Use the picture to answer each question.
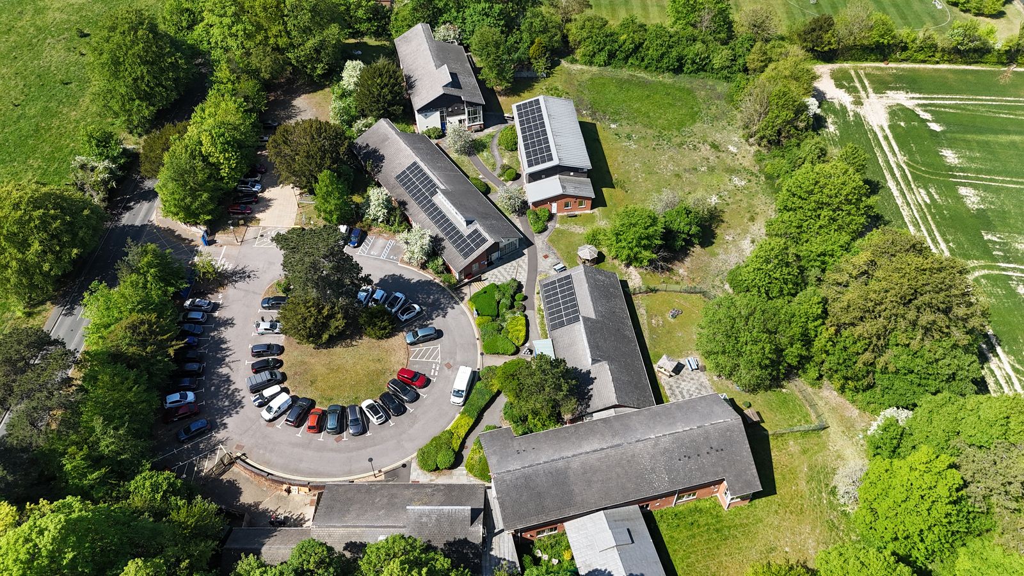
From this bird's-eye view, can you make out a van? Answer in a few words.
Yes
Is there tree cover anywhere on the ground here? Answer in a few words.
Yes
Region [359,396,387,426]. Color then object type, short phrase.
white car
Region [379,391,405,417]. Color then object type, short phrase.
black car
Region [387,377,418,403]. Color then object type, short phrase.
black car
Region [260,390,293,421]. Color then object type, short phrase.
white van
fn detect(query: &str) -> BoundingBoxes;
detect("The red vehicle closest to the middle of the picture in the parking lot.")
[396,365,428,388]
